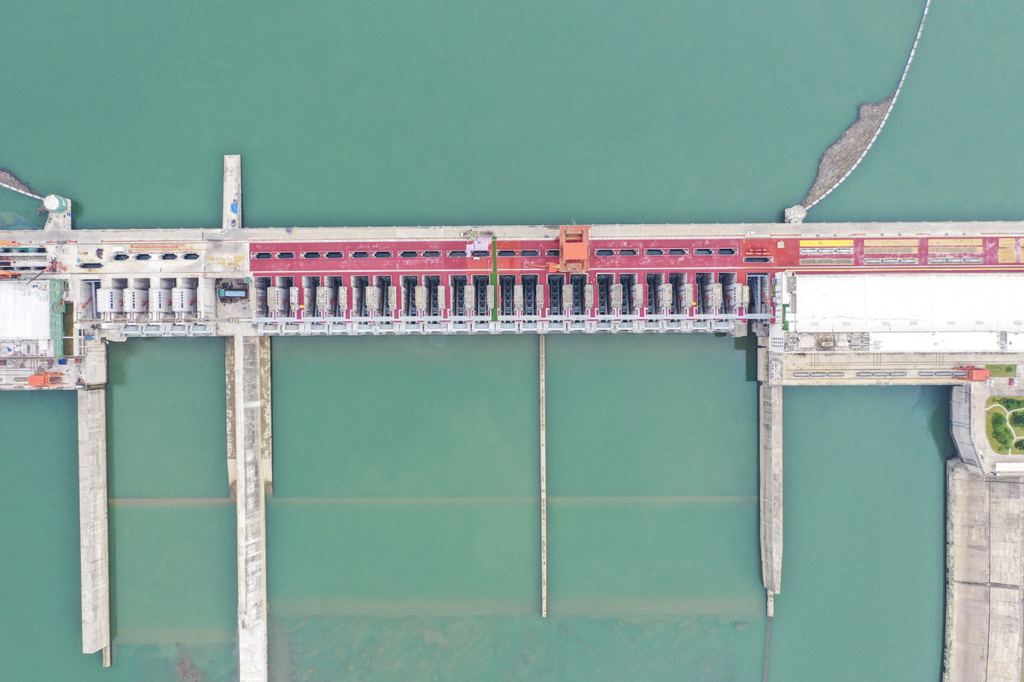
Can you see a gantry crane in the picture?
Yes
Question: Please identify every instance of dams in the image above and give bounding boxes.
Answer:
[0,222,1024,391]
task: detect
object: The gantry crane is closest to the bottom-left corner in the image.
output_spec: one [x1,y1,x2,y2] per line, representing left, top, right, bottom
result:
[28,372,73,387]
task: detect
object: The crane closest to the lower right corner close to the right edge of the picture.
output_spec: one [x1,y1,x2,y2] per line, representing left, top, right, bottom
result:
[947,366,990,381]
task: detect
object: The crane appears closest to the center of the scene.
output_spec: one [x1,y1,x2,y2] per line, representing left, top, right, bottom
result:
[524,225,591,273]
